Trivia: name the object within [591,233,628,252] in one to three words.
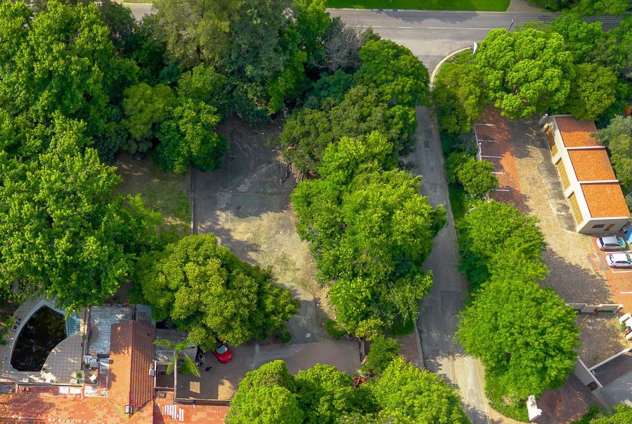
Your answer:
car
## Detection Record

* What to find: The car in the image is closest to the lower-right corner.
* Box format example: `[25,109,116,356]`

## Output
[601,251,632,269]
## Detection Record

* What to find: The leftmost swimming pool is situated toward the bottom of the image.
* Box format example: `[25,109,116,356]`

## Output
[9,302,68,372]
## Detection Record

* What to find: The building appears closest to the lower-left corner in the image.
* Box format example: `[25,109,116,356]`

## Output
[0,303,229,424]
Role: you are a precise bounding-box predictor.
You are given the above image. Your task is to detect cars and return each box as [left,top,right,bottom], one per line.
[601,251,632,269]
[591,233,628,252]
[209,340,238,369]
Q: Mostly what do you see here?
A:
trees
